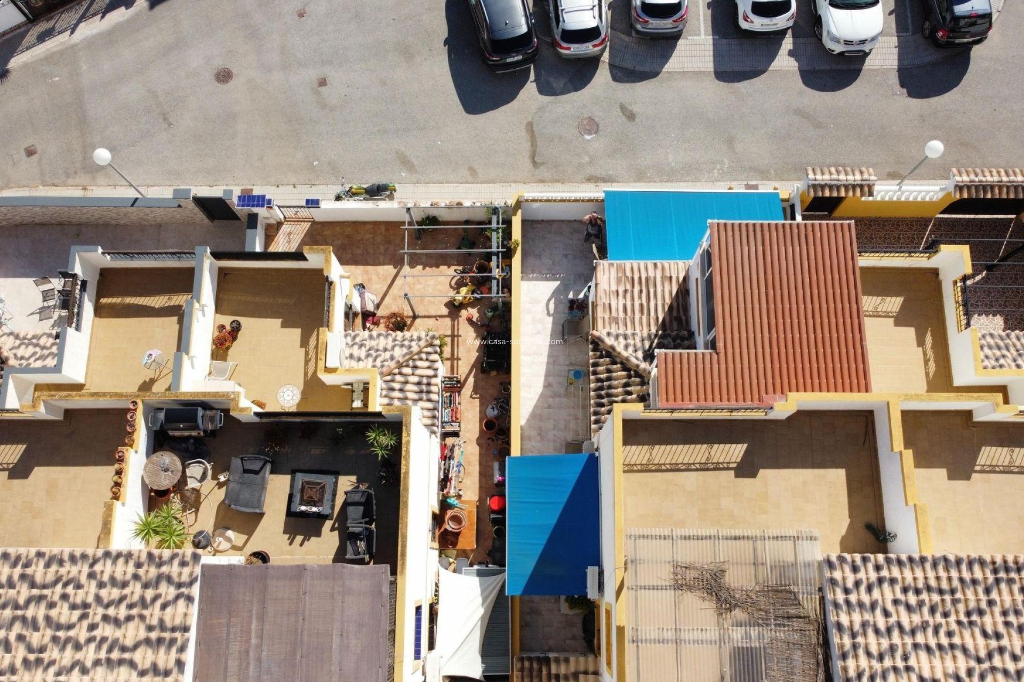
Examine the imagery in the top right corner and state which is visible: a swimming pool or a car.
car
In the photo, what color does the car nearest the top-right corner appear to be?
black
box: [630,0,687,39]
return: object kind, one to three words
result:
car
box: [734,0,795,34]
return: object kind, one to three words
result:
car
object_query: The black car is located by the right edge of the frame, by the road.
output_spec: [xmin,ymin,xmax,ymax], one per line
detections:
[917,0,996,52]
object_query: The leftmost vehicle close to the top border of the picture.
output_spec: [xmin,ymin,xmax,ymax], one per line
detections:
[468,0,539,74]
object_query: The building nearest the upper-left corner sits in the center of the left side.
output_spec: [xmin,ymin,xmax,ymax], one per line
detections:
[0,243,219,404]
